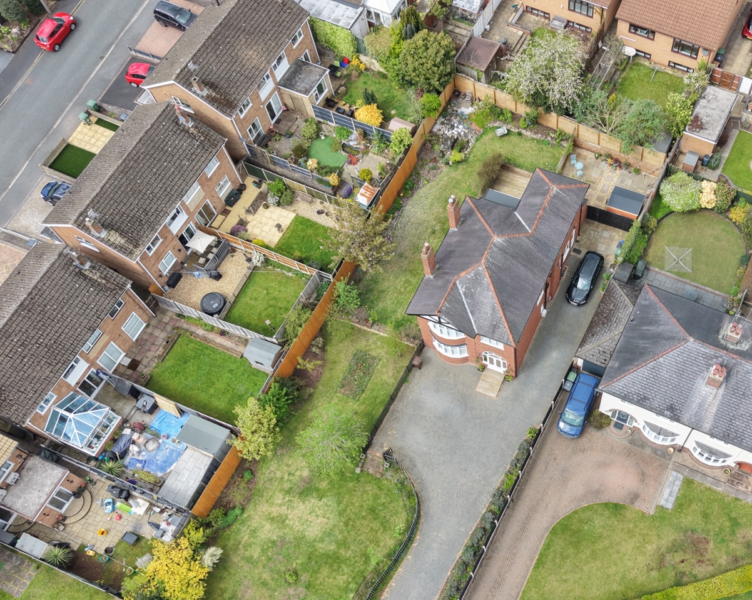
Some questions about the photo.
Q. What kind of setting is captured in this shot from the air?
residential area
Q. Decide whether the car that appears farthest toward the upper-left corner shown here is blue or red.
red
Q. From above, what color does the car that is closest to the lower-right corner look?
blue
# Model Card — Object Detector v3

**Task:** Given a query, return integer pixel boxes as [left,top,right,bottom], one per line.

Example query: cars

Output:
[33,179,75,209]
[118,61,154,89]
[565,250,607,308]
[35,15,79,50]
[743,8,752,40]
[147,0,197,30]
[560,370,599,435]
